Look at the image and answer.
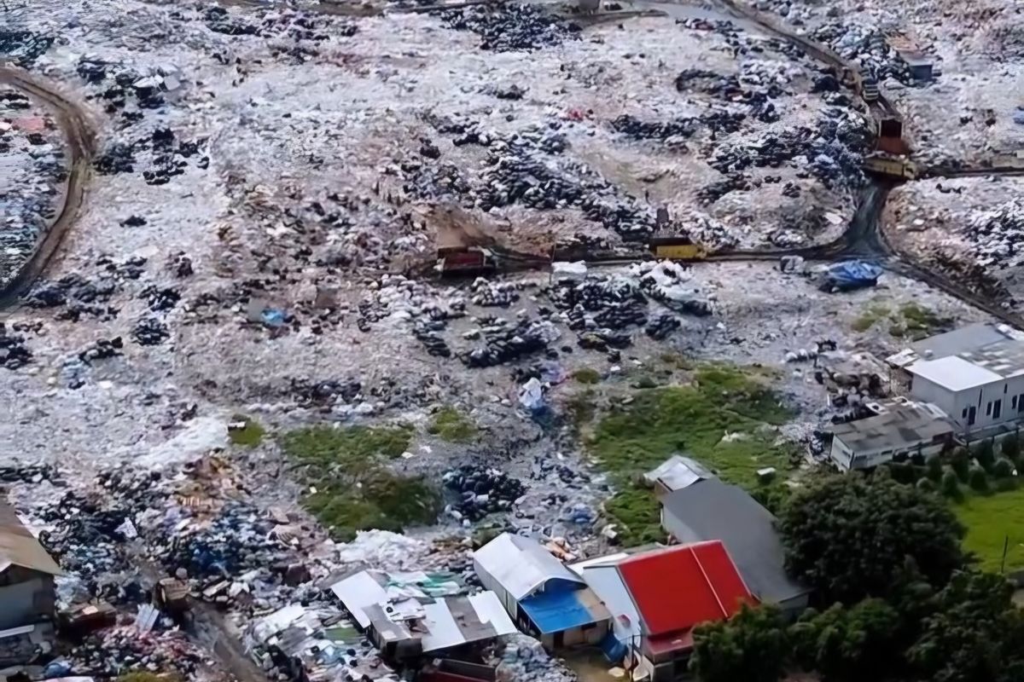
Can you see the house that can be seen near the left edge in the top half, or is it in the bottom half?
bottom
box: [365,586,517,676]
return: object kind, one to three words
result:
shed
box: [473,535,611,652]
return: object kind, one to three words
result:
house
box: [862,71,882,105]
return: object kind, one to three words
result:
vehicle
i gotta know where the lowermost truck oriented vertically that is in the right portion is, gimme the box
[880,108,905,151]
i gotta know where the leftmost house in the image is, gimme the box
[0,506,67,628]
